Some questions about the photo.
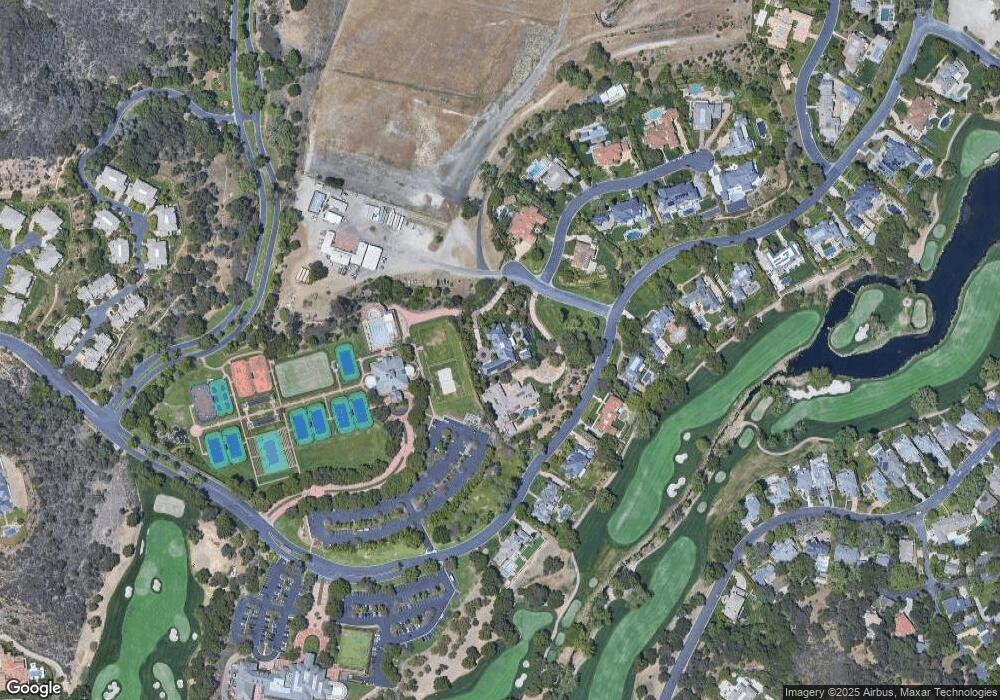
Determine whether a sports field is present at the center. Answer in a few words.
Yes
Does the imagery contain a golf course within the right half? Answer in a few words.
Yes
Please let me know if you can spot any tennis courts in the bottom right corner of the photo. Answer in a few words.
No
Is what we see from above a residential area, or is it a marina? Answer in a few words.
residential area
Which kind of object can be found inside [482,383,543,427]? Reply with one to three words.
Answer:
house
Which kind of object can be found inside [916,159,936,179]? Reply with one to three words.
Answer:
swimming pool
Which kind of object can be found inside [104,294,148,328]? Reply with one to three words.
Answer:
building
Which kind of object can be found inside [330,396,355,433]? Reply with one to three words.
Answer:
tennis court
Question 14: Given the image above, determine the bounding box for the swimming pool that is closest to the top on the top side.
[878,3,895,27]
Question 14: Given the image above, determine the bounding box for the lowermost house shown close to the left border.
[0,651,32,691]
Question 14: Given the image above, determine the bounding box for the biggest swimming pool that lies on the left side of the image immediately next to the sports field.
[365,315,398,355]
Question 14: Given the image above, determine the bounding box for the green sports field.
[412,318,483,419]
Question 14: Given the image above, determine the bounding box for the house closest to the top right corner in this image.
[929,54,969,102]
